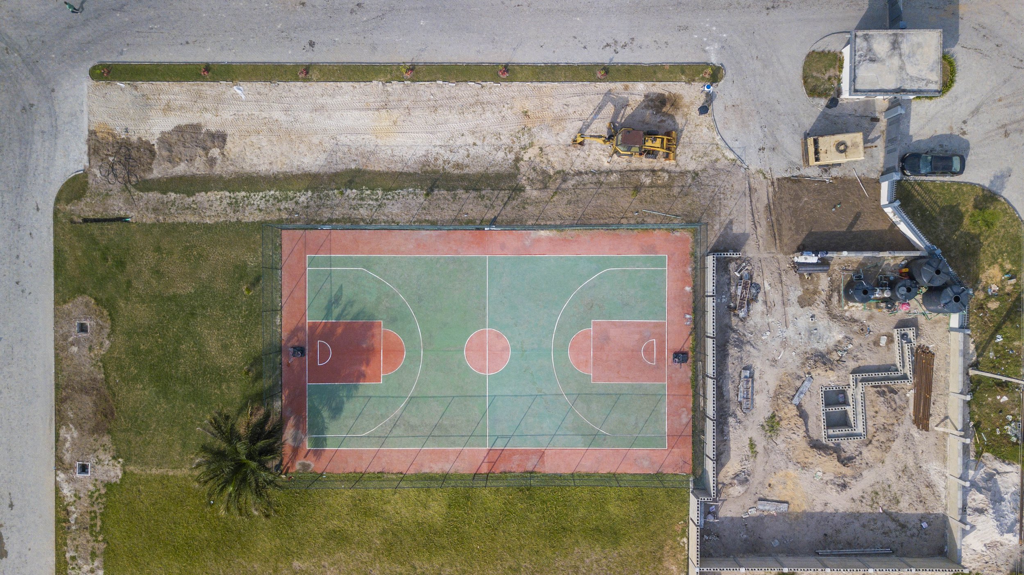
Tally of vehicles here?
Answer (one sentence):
I count 2 vehicles.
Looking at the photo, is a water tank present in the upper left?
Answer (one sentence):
No, no water tank is visible in the upper left.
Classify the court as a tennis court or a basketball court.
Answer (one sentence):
I'd say the court is a basketball court.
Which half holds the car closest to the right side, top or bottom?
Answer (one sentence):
The car closest to the right side is in the top half of the image.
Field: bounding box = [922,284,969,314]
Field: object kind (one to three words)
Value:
water tank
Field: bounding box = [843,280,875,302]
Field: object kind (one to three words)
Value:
water tank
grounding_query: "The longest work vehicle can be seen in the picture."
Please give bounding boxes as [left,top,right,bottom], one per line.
[572,122,677,164]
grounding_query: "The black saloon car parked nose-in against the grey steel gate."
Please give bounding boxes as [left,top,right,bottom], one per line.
[901,149,967,178]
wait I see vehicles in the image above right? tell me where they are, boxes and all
[901,149,967,178]
[572,122,677,164]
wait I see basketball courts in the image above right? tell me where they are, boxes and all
[282,229,693,475]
